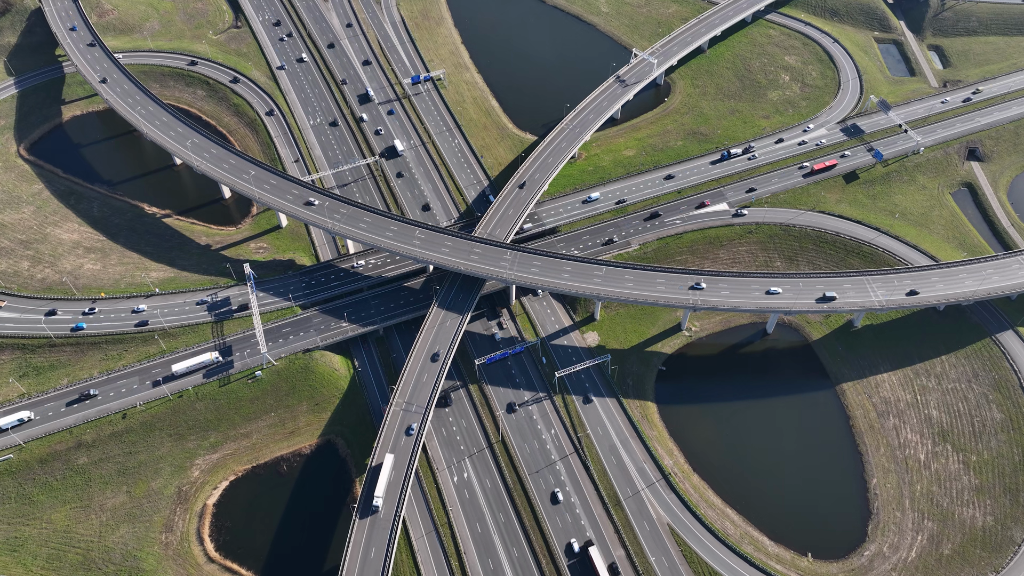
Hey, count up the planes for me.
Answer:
zero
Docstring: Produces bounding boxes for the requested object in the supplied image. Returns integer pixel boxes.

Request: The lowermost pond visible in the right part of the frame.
[656,322,868,560]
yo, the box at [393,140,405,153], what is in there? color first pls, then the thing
white vehicle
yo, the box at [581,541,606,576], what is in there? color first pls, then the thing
white truck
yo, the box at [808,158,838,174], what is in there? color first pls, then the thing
red vehicle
